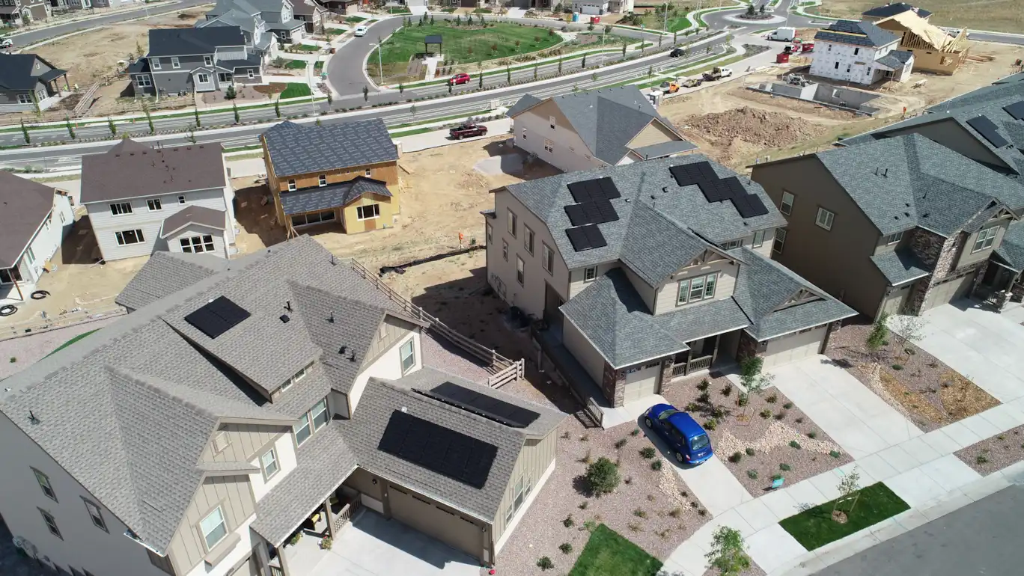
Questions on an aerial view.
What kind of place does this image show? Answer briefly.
residential area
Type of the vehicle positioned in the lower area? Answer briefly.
automobile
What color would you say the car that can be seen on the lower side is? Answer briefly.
blue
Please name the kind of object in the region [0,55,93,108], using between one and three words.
house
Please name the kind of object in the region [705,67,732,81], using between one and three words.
vehicle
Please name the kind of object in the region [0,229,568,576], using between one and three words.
house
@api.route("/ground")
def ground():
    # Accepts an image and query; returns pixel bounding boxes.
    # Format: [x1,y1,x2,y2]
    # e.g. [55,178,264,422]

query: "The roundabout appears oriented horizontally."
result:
[686,8,821,29]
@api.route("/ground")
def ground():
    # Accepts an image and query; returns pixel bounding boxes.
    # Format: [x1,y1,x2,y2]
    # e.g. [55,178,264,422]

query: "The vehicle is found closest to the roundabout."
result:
[770,26,799,42]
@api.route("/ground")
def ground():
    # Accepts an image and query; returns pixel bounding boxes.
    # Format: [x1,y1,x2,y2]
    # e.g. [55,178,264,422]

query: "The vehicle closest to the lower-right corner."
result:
[643,401,716,467]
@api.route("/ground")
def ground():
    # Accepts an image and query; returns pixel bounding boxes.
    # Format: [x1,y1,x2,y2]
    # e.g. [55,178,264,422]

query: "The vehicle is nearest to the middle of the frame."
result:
[449,123,486,140]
